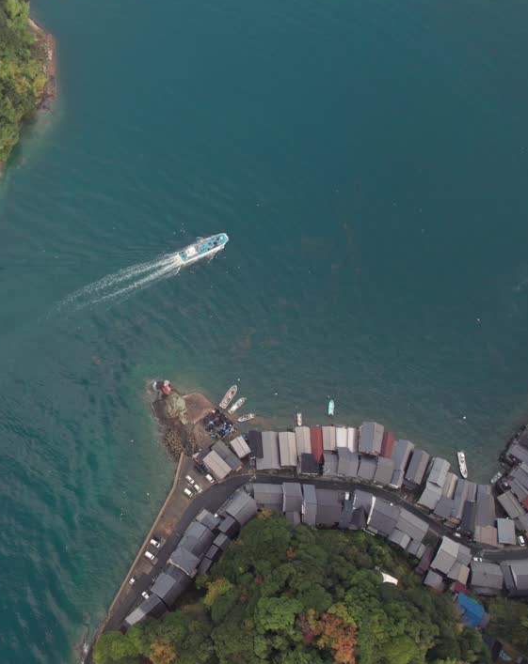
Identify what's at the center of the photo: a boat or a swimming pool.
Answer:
boat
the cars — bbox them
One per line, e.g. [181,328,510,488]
[516,535,527,548]
[149,538,161,549]
[196,464,208,474]
[453,531,462,539]
[472,556,483,563]
[182,488,194,498]
[194,483,202,492]
[128,577,135,586]
[185,475,195,484]
[143,550,155,562]
[140,590,152,601]
[205,472,215,484]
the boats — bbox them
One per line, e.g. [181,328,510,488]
[296,411,302,427]
[328,400,334,417]
[176,232,229,263]
[238,413,255,422]
[489,471,503,484]
[456,451,466,479]
[227,397,247,416]
[219,384,238,410]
